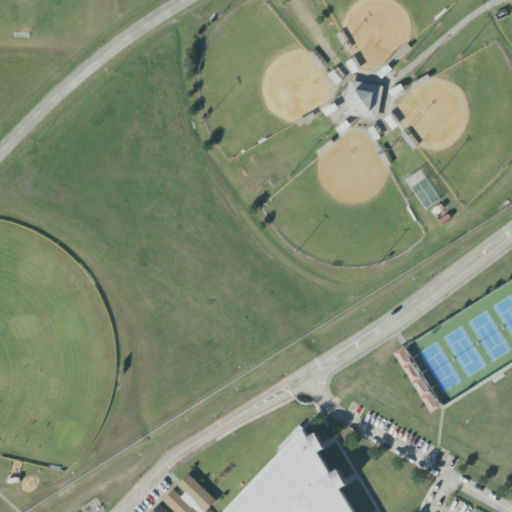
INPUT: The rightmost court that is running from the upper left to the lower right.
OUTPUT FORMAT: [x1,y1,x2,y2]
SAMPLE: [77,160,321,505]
[470,311,510,361]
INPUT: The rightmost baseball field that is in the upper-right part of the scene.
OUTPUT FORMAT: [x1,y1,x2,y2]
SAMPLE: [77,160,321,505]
[394,40,512,206]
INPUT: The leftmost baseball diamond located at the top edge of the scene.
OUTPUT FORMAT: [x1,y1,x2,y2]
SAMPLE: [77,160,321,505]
[199,0,337,159]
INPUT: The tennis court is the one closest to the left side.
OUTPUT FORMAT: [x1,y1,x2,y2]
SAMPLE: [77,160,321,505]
[420,341,462,392]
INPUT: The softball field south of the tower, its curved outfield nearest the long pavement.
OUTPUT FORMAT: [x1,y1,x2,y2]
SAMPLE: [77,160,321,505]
[264,128,424,267]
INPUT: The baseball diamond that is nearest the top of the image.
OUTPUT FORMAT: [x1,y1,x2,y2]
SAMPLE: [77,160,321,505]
[324,0,458,72]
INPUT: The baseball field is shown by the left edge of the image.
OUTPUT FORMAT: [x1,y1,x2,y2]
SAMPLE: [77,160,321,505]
[0,220,116,470]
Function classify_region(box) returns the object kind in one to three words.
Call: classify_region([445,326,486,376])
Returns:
tennis court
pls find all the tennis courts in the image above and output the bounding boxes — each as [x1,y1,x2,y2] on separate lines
[494,296,512,336]
[420,341,462,392]
[445,326,486,376]
[470,311,510,361]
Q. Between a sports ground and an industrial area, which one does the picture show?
sports ground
